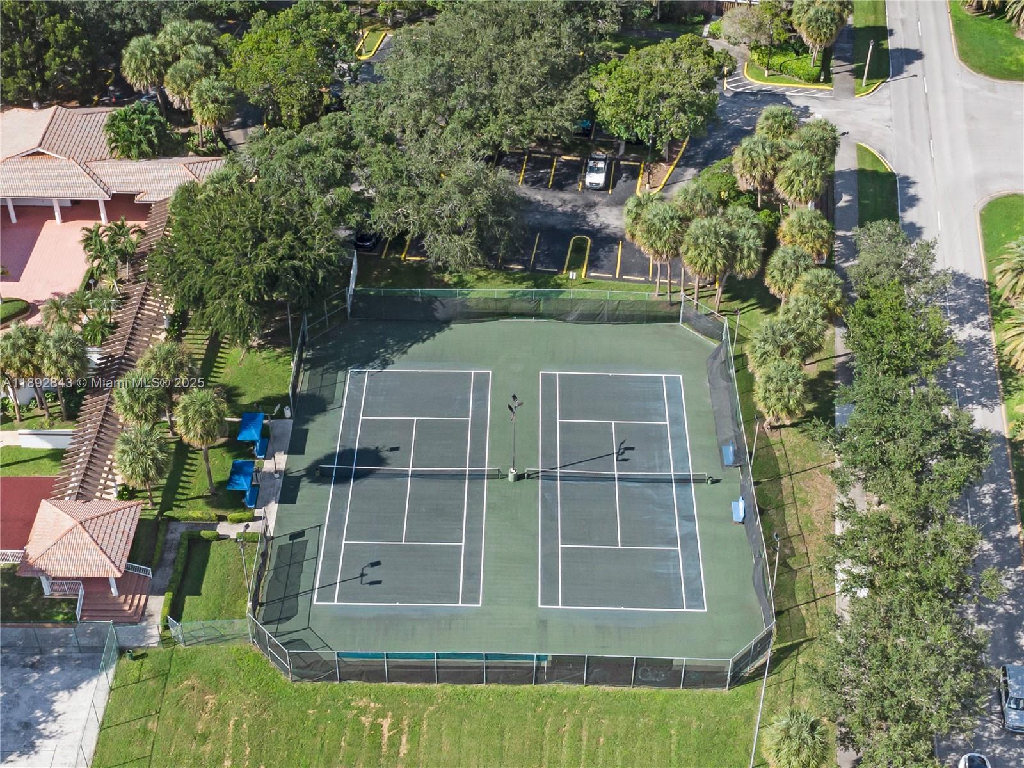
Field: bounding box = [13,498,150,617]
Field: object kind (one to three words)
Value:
gazebo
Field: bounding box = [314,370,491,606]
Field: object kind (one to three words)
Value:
tennis court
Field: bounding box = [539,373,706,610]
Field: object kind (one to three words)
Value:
tennis court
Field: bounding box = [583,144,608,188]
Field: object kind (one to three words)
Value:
truck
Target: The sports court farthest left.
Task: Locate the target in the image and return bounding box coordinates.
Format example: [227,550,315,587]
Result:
[0,617,120,768]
